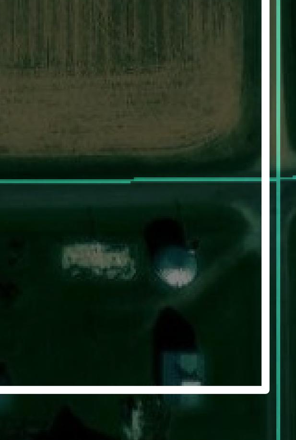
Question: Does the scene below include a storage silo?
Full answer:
Yes, there's a storage silo here.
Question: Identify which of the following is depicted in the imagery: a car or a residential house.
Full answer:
This aerial view contains a residential house.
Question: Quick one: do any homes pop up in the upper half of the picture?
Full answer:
No, no home is visible in the upper half of the picture.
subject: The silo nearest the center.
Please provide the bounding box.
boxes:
[152,245,195,289]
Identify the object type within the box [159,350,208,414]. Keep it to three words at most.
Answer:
house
